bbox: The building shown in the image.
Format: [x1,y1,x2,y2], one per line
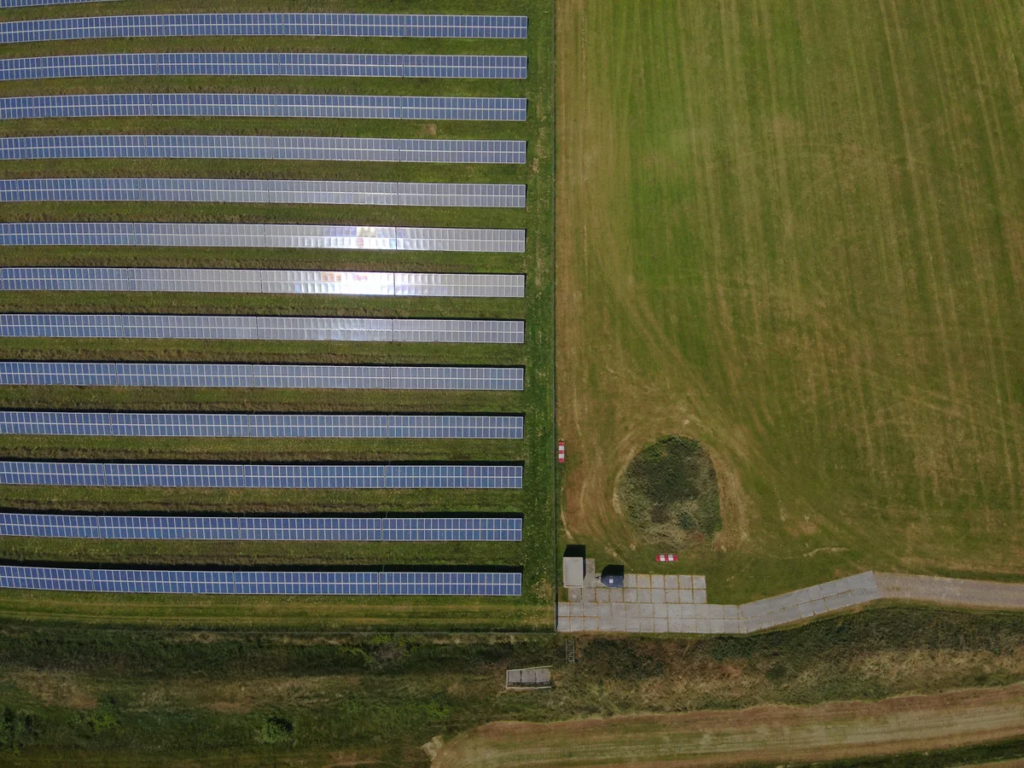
[562,557,583,587]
